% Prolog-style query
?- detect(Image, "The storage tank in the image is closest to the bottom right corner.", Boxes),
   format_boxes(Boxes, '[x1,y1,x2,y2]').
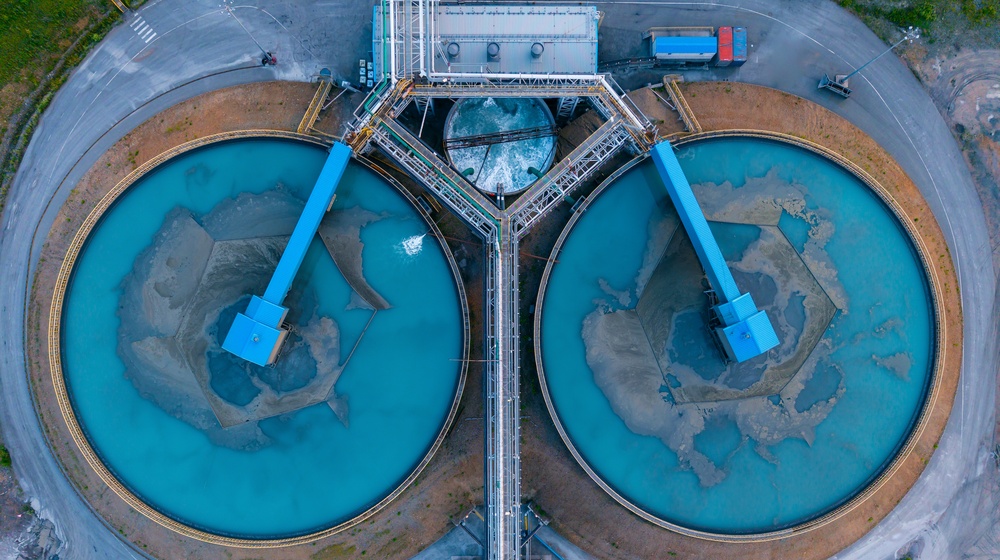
[535,128,947,542]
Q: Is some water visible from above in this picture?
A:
Yes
